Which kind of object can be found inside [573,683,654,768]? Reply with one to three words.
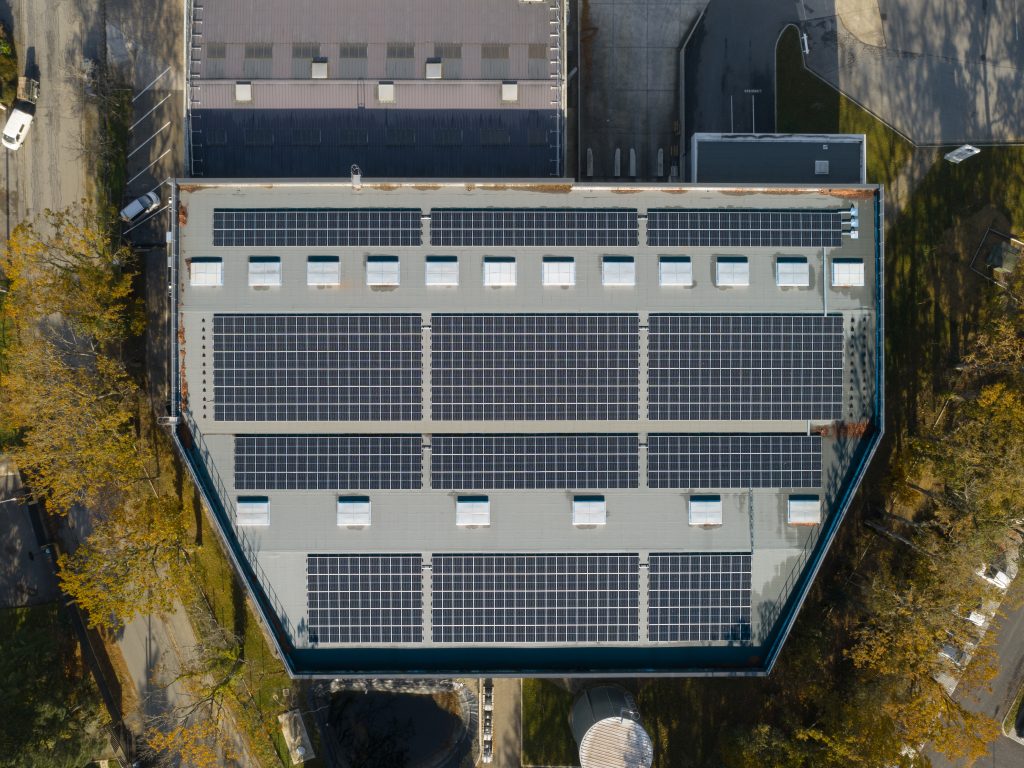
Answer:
storage tank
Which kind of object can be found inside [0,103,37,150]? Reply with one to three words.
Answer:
van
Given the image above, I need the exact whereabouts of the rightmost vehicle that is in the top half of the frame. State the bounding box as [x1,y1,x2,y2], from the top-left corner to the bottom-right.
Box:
[119,192,161,223]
